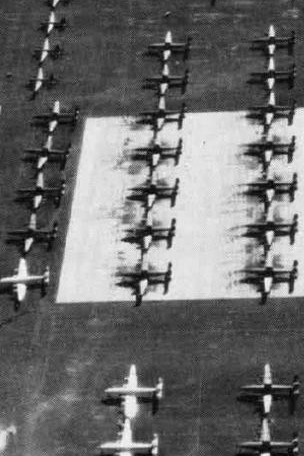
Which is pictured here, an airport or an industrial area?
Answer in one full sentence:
This image shows an airport.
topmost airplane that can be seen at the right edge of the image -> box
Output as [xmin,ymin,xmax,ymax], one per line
[250,25,294,54]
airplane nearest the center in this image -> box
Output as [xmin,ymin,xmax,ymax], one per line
[125,210,176,250]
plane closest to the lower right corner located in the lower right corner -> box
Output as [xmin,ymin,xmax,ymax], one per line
[238,418,298,456]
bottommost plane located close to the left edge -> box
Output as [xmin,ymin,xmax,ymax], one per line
[0,258,50,300]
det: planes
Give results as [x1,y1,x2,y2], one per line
[23,135,71,169]
[40,10,72,33]
[241,363,299,412]
[125,210,176,250]
[250,25,294,54]
[0,258,50,300]
[148,31,192,60]
[249,92,297,125]
[33,37,66,62]
[247,166,298,203]
[120,253,172,295]
[140,97,187,130]
[7,213,58,251]
[106,366,163,415]
[247,128,296,162]
[33,100,79,131]
[246,206,298,245]
[16,172,65,208]
[49,0,61,6]
[27,65,60,91]
[100,419,159,456]
[144,63,190,93]
[245,250,298,292]
[238,418,298,456]
[130,170,179,207]
[135,132,183,167]
[249,58,295,89]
